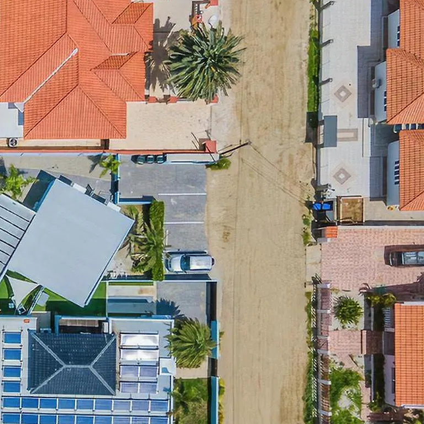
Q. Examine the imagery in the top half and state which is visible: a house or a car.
house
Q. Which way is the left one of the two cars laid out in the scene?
horizontally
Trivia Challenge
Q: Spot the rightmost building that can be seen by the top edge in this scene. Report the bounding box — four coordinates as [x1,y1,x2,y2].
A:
[373,0,424,126]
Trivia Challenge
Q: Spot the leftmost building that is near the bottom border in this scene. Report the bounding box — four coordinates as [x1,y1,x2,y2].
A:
[0,316,176,424]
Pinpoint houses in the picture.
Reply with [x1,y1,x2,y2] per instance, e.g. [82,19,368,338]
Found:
[381,301,424,409]
[6,178,135,311]
[373,0,424,126]
[0,0,154,140]
[386,129,424,211]
[0,316,176,424]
